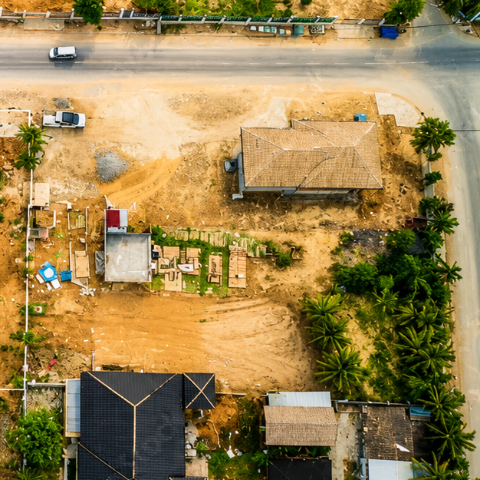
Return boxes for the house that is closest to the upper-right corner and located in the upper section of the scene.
[231,120,383,199]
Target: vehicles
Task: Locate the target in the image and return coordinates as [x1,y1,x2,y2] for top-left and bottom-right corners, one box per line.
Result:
[43,113,84,129]
[48,47,77,61]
